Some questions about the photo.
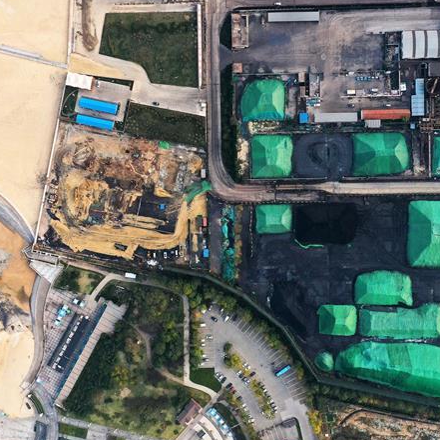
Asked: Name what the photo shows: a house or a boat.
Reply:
house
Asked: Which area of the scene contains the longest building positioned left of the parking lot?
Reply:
bottom left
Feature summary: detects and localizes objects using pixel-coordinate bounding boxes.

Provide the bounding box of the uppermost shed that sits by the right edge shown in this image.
[400,32,440,61]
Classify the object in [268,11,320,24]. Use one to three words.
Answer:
shed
